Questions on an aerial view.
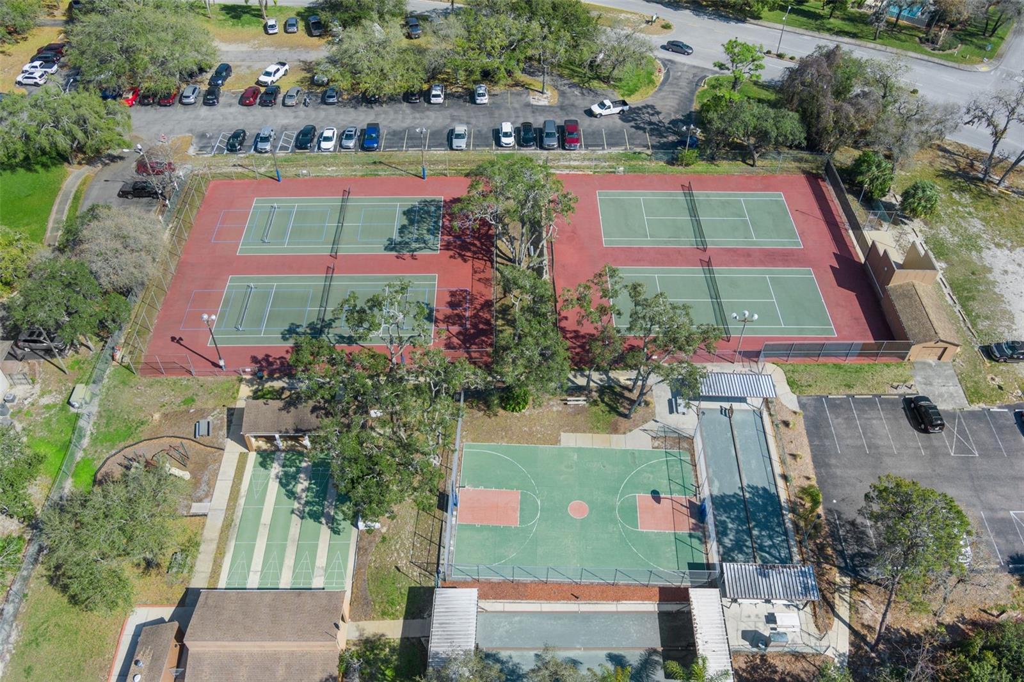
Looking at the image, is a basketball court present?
Yes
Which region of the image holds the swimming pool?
top right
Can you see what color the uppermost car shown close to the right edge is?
black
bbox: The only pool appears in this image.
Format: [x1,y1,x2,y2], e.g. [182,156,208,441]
[859,0,934,25]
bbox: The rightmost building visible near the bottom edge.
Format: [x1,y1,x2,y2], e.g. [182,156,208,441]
[179,589,348,682]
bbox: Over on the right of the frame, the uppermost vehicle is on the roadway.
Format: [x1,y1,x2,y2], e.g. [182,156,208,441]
[664,38,696,55]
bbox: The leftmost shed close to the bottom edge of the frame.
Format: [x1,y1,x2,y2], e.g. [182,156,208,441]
[127,622,185,682]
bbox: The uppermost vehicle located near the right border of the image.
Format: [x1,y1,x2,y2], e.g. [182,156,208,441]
[993,339,1024,362]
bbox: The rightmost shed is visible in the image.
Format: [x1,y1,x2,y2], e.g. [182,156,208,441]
[880,278,955,356]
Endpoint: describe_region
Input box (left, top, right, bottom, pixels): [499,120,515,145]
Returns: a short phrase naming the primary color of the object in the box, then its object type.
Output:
white car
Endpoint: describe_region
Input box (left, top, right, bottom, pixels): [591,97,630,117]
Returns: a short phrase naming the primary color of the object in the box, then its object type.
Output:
white vehicle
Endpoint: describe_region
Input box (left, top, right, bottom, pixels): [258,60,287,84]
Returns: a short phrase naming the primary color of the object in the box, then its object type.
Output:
white truck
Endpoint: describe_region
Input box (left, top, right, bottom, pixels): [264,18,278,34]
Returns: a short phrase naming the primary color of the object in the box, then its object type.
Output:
white car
